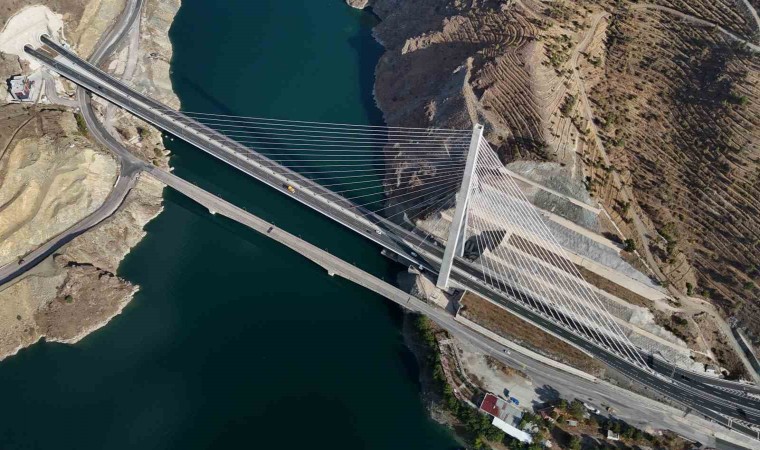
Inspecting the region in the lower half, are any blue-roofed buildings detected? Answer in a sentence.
No, the scene shows no blue-roofed building in the lower half.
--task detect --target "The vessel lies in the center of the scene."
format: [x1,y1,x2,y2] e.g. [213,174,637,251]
[379,247,401,264]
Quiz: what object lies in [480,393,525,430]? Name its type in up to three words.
building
